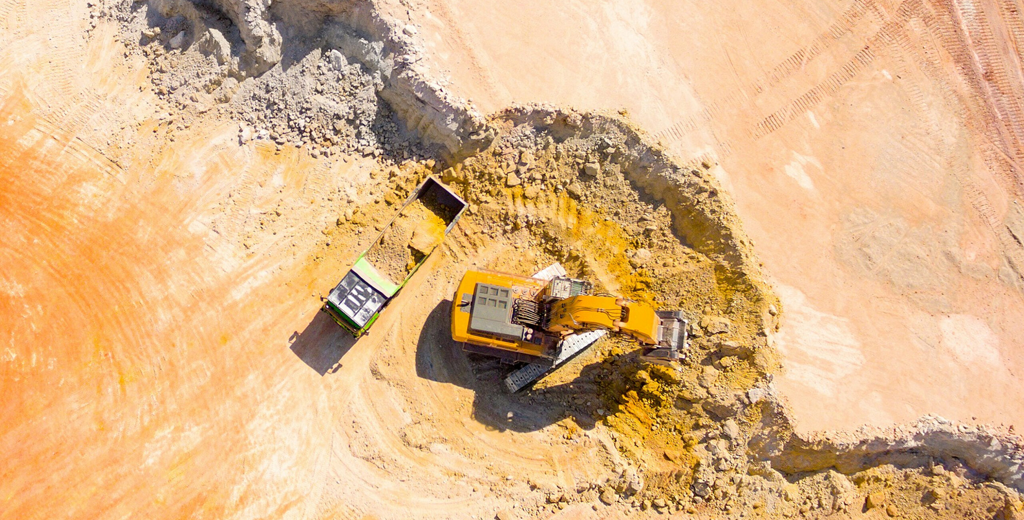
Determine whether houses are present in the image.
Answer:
No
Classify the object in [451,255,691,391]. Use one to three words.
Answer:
work vehicle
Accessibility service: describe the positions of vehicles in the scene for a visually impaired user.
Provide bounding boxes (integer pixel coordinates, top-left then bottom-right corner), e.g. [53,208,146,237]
[319,176,468,341]
[451,255,691,391]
